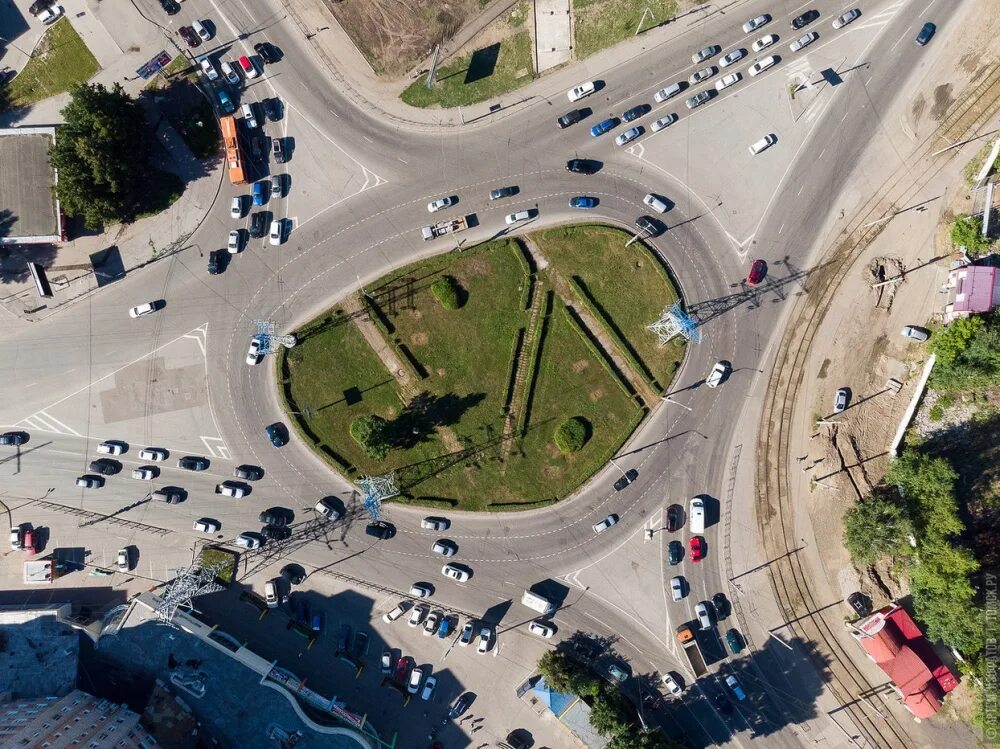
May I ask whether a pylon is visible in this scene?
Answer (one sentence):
Yes, a pylon can be made out from above.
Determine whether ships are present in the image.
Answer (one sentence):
No, there is no ship in the image.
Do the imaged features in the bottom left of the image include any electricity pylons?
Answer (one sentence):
Yes, an electricity pylon shows up in the bottom left of the image.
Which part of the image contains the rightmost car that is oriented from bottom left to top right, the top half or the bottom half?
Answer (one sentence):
It is in the top half that the rightmost car that is oriented from bottom left to top right appears.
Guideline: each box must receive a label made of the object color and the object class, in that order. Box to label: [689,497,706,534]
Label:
white vehicle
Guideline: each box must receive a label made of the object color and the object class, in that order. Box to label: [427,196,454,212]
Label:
white car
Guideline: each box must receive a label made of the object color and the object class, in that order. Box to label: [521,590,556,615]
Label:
white vehicle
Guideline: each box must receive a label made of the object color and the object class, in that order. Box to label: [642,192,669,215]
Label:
white car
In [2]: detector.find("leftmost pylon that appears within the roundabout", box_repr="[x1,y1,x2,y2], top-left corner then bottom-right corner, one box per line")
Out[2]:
[250,315,297,357]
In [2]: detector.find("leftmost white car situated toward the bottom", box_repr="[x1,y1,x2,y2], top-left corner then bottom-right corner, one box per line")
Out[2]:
[6,523,23,554]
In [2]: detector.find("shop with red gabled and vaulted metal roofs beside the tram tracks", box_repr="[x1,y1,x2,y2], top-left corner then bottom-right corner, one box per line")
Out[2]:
[842,587,961,716]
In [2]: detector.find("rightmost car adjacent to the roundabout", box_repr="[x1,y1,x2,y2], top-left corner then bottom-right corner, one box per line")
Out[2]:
[748,260,766,284]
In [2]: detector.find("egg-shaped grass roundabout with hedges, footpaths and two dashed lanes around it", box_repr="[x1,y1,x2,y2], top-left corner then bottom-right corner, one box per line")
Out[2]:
[205,146,752,578]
